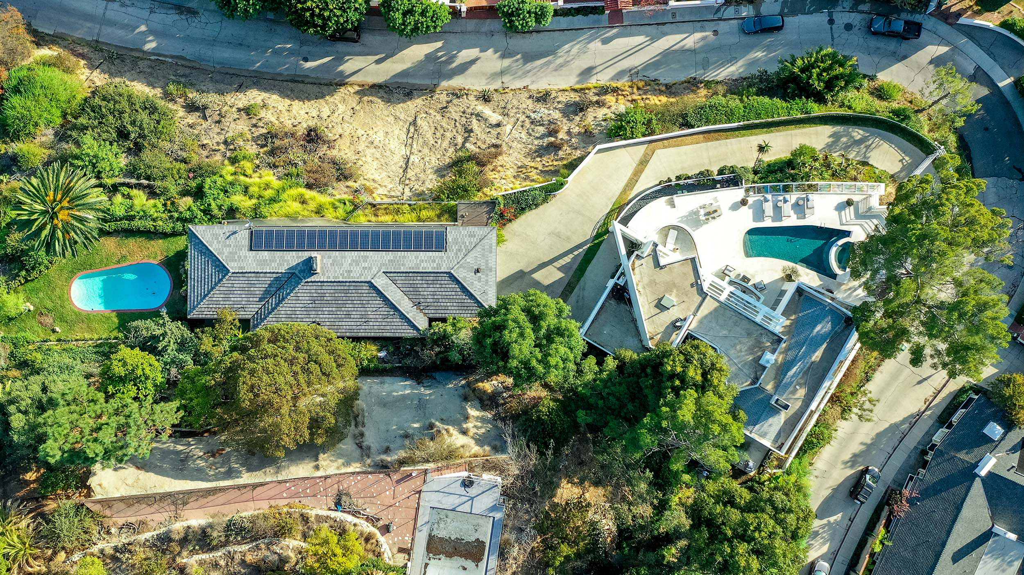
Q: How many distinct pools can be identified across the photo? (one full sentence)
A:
There are 2 pools in the image.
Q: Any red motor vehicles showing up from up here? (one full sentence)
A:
No, I find no red motor vehicle anywhere in the image.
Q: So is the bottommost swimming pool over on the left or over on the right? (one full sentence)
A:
It is on the left.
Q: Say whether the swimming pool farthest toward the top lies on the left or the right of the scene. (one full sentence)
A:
The swimming pool farthest toward the top appears in the right half of the scene.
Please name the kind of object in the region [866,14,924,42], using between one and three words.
truck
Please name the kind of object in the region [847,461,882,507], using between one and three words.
car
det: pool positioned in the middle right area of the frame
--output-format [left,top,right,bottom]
[743,221,866,279]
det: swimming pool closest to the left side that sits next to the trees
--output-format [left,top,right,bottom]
[68,260,173,313]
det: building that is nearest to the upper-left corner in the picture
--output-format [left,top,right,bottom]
[187,222,498,338]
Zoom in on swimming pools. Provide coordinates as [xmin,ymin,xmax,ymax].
[68,260,173,313]
[743,221,866,279]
